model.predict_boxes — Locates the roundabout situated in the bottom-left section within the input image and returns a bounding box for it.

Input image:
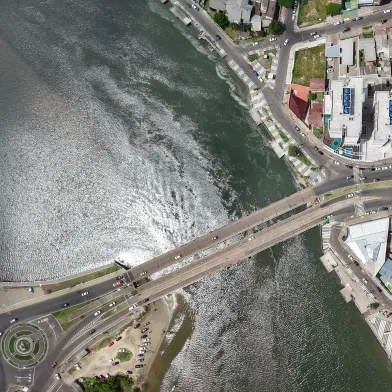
[0,322,47,369]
